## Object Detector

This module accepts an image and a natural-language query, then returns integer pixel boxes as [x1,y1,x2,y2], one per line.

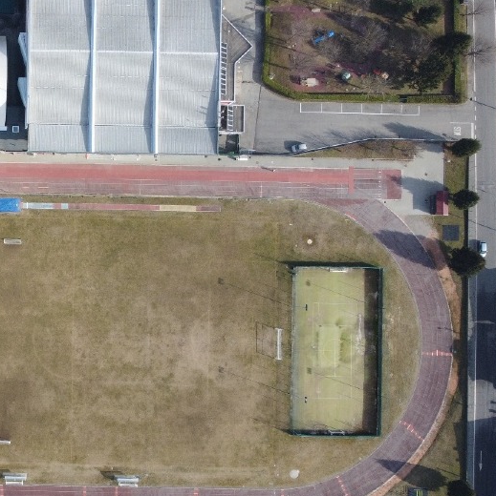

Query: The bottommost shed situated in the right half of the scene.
[430,190,448,215]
